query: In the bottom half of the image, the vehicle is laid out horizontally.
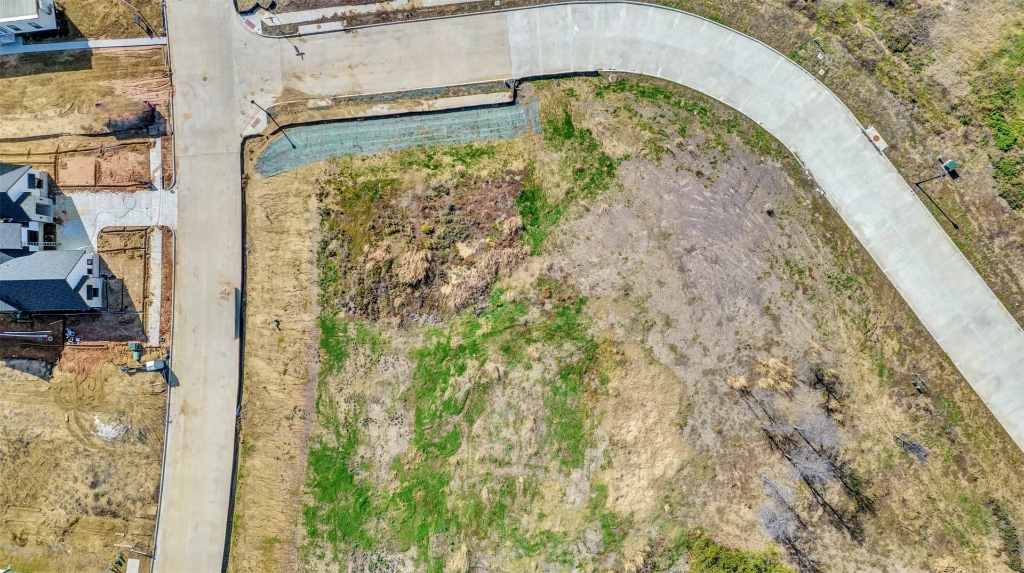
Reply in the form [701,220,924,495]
[123,358,173,373]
